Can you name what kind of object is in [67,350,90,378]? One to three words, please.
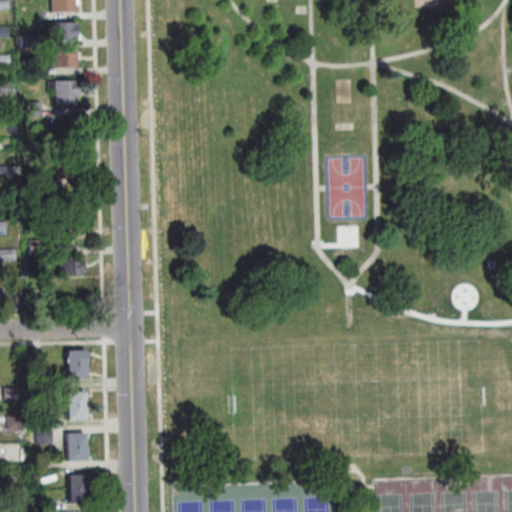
house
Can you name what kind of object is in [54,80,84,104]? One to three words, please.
house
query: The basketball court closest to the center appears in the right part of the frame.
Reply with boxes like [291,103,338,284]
[326,156,368,220]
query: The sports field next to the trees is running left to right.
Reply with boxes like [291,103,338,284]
[230,341,482,458]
